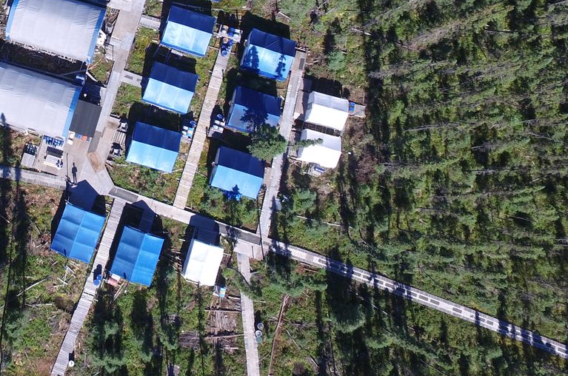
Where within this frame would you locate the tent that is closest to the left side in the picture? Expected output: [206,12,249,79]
[51,202,104,265]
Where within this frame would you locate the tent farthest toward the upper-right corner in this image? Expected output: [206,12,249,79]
[303,91,349,132]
